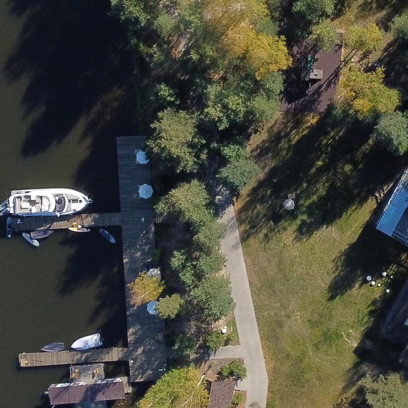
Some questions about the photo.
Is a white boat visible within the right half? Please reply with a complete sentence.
No, the scene shows no white boat within the right half.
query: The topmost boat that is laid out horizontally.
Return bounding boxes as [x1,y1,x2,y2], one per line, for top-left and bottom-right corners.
[10,190,95,217]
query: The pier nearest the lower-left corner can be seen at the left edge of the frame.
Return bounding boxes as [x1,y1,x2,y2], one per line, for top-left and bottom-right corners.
[19,347,130,367]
